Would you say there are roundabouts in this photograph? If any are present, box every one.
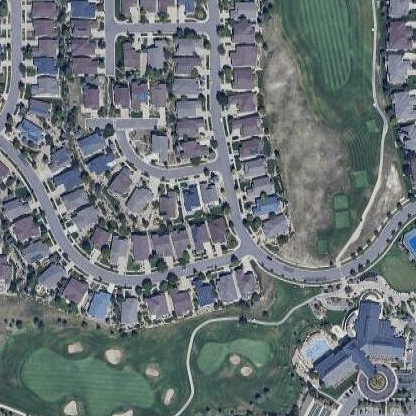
[356,361,397,402]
